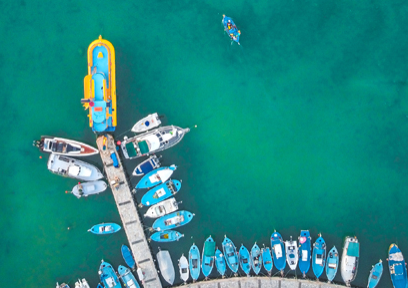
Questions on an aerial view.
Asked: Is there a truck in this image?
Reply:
No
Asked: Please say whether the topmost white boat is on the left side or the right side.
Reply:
left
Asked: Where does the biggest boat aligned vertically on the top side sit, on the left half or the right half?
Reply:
left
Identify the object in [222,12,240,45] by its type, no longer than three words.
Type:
boat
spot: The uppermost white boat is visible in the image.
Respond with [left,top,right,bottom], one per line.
[114,112,164,139]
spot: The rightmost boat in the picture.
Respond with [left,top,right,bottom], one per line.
[386,242,408,288]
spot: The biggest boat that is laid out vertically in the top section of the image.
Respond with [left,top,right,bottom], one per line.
[80,34,118,137]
